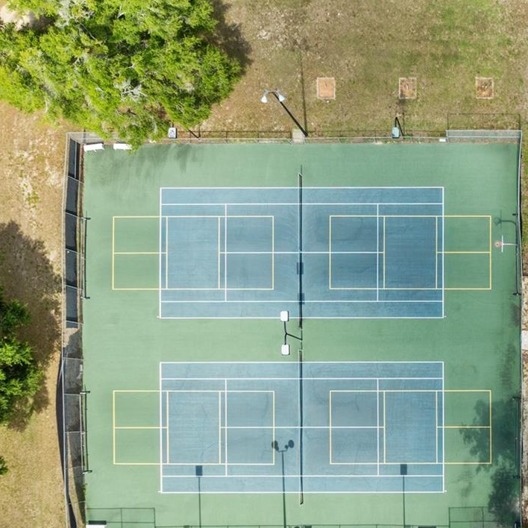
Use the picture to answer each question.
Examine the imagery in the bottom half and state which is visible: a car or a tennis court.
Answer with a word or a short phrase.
tennis court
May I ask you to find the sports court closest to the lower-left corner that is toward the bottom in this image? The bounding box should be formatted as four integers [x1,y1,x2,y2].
[112,390,274,465]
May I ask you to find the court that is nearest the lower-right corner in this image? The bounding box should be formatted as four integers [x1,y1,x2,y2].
[329,390,491,465]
